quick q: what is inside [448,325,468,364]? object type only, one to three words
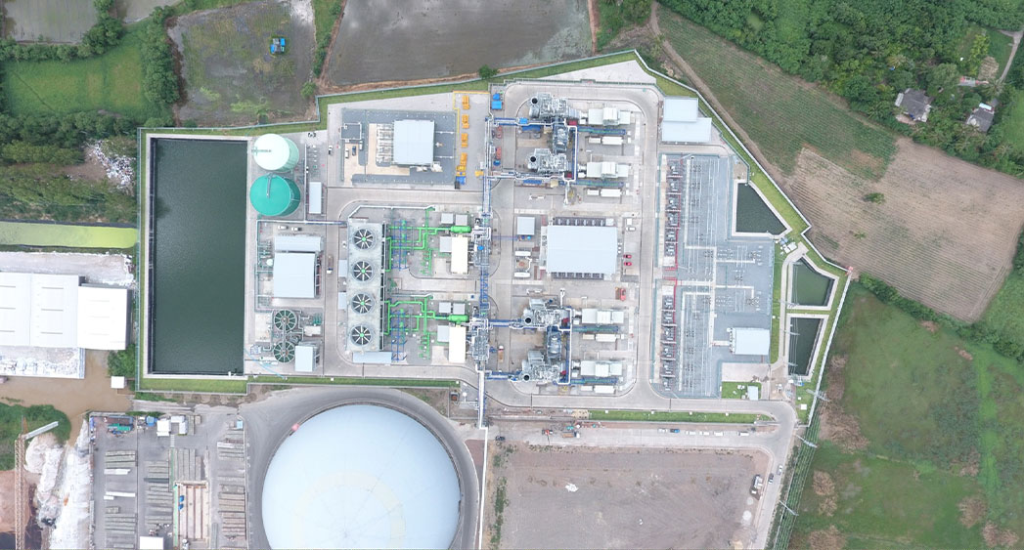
house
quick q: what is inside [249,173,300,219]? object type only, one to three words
storage tank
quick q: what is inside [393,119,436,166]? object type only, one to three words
building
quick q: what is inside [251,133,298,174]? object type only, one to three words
storage tank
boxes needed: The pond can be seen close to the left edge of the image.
[0,222,136,249]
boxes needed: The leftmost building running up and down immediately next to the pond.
[0,271,32,347]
